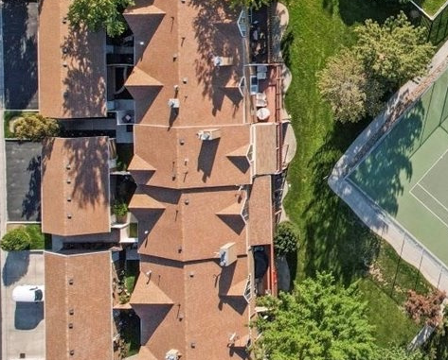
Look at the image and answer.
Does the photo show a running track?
No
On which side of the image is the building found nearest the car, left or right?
left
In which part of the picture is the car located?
bottom left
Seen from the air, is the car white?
Yes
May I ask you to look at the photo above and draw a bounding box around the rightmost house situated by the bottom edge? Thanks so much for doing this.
[130,247,261,360]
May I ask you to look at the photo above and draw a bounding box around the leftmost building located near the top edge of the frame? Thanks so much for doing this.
[39,0,113,119]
